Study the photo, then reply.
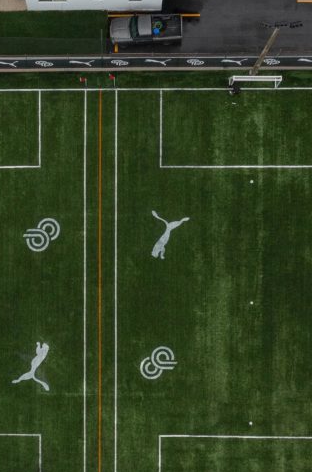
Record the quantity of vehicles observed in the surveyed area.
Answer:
1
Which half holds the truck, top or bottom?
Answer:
top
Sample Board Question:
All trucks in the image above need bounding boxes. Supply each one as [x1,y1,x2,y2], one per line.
[110,12,185,51]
